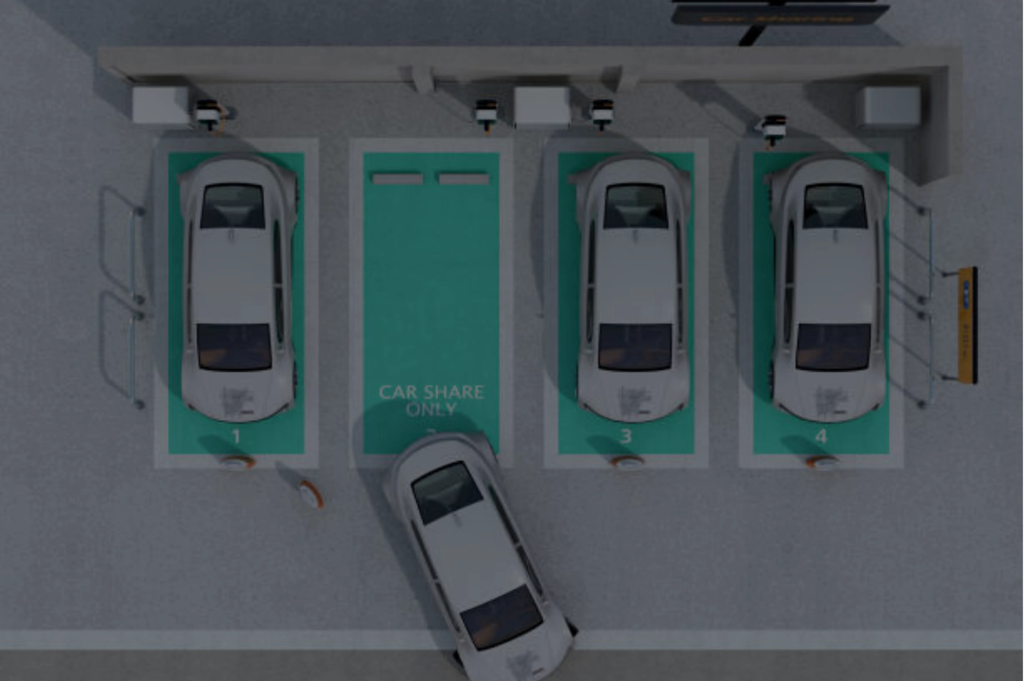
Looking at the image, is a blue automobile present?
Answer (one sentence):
No, I find no blue automobile anywhere in the image.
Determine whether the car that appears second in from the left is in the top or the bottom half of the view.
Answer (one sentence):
It is in the bottom half that the car that appears second in from the left appears.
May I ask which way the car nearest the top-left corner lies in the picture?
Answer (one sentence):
From this overhead view, the car nearest the top-left corner appears to run from top to bottom.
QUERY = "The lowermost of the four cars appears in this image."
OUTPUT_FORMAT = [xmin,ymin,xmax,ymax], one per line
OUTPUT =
[381,432,579,681]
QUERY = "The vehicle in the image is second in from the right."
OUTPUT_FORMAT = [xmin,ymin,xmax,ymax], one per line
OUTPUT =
[576,154,690,424]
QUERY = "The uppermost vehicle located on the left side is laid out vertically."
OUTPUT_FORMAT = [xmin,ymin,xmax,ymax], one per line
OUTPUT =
[182,154,298,424]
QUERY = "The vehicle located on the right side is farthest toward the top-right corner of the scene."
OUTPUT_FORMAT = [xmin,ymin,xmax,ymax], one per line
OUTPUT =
[769,154,886,424]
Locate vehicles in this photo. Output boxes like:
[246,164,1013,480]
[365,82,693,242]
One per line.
[576,154,690,424]
[769,154,886,424]
[182,154,298,424]
[381,432,579,681]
